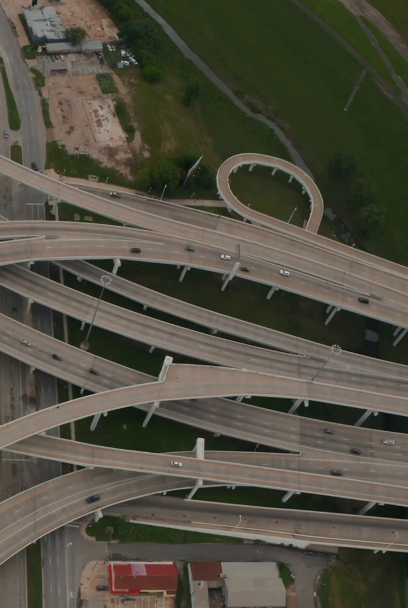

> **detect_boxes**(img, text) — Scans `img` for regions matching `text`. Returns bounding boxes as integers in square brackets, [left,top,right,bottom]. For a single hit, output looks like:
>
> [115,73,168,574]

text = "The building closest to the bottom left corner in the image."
[105,561,178,597]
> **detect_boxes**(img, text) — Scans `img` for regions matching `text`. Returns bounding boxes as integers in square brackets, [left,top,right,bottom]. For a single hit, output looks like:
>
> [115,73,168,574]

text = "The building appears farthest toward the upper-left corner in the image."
[21,0,66,46]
